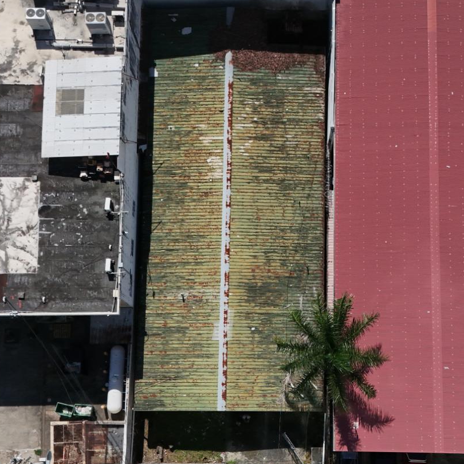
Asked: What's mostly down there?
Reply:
buildings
